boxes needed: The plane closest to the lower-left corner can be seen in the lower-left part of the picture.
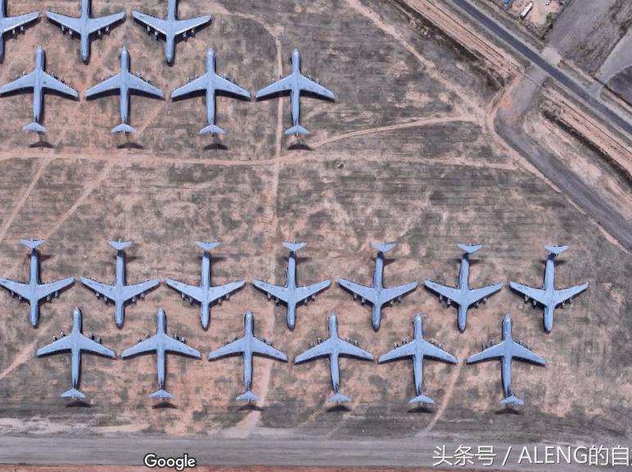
[37,307,116,400]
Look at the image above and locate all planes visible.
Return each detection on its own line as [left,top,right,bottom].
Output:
[82,239,159,328]
[510,243,588,333]
[424,242,502,332]
[378,312,456,405]
[166,240,245,329]
[133,0,212,65]
[467,314,545,407]
[209,310,287,403]
[0,238,74,328]
[0,45,77,134]
[48,0,125,64]
[295,311,374,404]
[256,48,335,136]
[86,46,164,134]
[0,0,40,62]
[252,240,330,331]
[37,307,116,400]
[123,308,200,401]
[171,48,250,135]
[339,241,417,332]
